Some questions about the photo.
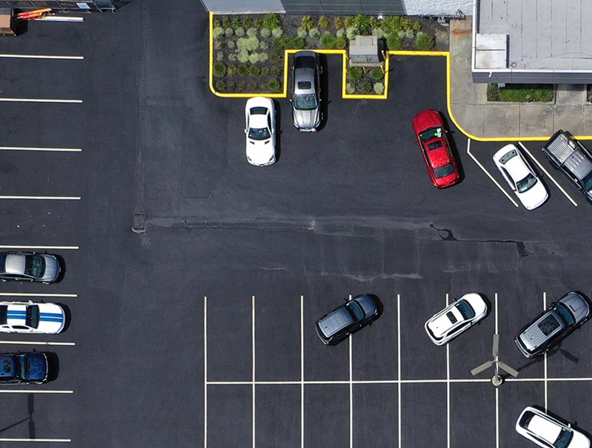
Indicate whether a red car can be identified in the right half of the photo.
Yes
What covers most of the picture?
paved ground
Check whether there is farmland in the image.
No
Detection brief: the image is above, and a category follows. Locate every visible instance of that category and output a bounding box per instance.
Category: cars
[0,247,64,285]
[513,293,592,360]
[0,348,54,389]
[415,110,460,191]
[315,293,385,348]
[516,406,591,448]
[0,298,68,336]
[490,140,548,215]
[425,291,495,350]
[242,97,279,170]
[287,51,326,134]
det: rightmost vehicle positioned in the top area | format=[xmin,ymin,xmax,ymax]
[539,126,592,207]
